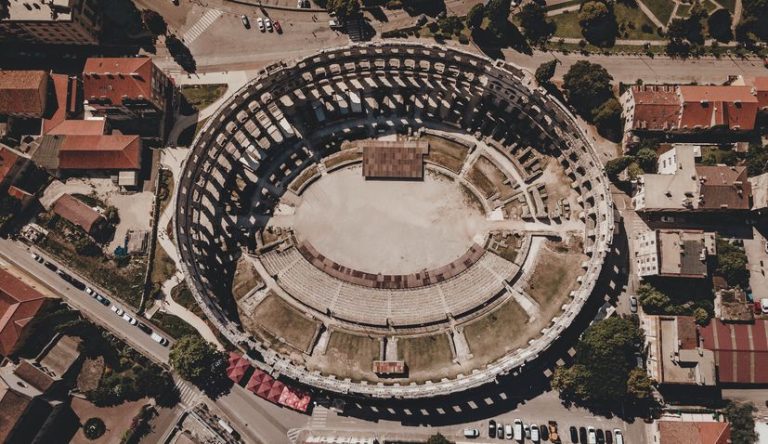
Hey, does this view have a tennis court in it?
No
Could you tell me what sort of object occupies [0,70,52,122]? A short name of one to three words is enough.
house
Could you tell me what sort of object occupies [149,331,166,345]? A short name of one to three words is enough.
vehicle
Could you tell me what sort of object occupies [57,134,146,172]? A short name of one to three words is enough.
building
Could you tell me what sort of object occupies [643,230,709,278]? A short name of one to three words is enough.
house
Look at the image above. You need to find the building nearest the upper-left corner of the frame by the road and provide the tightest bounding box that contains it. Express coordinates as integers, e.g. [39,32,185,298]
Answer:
[0,0,95,41]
